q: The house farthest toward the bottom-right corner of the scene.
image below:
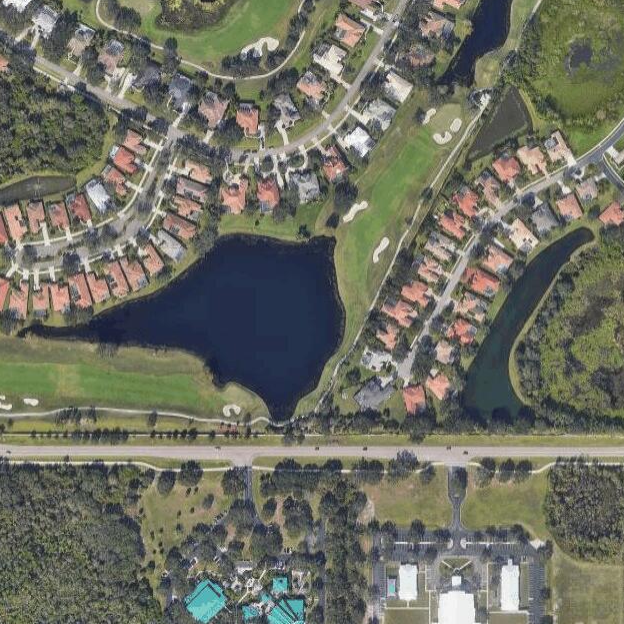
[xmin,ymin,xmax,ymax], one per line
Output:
[501,559,520,610]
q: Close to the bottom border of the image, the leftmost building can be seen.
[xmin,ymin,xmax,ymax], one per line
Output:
[184,579,228,623]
